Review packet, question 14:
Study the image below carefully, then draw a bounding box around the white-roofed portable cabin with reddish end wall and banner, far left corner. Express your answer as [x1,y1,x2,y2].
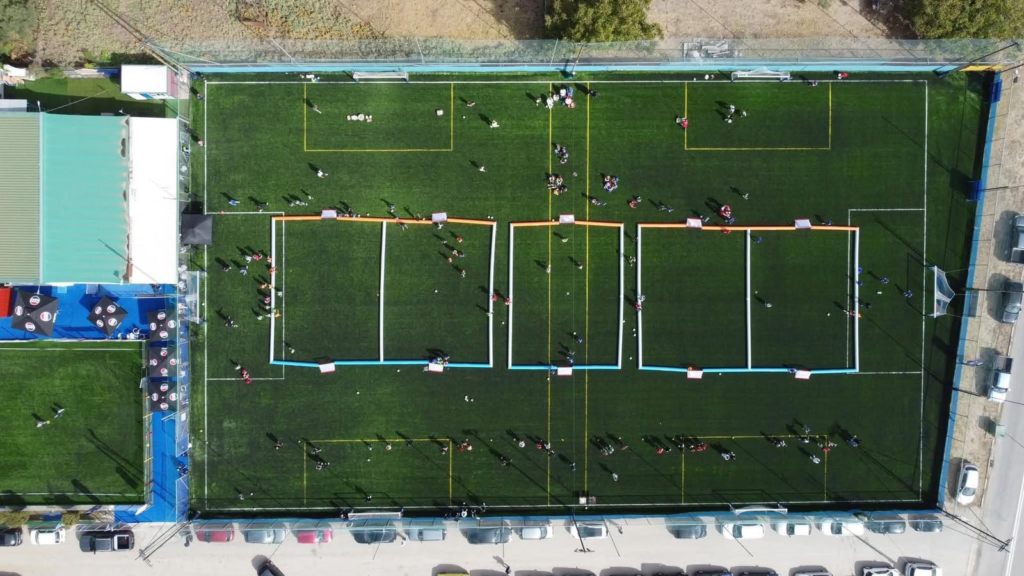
[122,65,180,99]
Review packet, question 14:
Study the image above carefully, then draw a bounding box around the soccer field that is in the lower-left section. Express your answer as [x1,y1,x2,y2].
[0,341,152,506]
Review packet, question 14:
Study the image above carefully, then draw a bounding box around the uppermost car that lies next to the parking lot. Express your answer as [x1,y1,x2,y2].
[953,460,979,504]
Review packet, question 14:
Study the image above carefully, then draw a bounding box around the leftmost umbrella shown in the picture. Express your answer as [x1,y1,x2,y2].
[11,288,62,337]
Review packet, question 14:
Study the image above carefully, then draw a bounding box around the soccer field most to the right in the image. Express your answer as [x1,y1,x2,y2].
[190,71,993,519]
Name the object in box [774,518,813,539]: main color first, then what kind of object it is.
white car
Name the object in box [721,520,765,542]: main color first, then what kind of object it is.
white car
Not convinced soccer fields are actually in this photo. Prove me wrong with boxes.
[190,71,993,519]
[0,341,152,506]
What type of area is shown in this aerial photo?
sports ground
